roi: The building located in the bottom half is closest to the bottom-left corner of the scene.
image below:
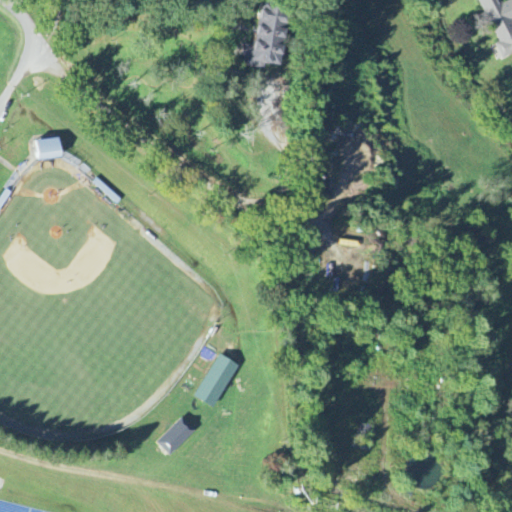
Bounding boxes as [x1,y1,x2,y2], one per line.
[155,418,194,456]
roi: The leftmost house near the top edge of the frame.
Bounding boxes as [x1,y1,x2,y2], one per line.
[247,4,288,68]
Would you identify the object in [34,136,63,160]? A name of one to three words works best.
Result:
building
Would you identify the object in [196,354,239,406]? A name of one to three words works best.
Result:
shed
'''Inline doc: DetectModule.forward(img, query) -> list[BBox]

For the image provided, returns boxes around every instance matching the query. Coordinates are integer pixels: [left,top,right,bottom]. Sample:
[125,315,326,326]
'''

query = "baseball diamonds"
[0,160,220,440]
